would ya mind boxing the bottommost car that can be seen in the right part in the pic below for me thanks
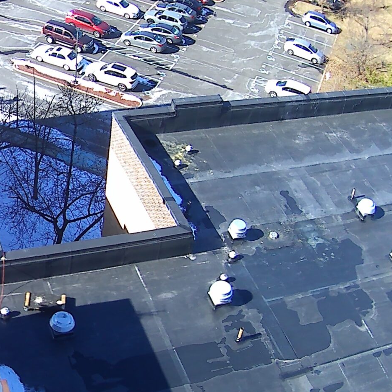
[265,79,313,96]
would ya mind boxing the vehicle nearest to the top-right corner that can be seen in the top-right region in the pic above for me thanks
[301,8,337,34]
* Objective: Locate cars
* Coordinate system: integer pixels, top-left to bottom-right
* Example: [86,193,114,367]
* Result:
[301,8,337,34]
[30,44,86,71]
[84,60,140,90]
[143,5,191,29]
[283,36,325,64]
[133,21,182,44]
[117,28,169,53]
[64,7,113,38]
[265,79,313,96]
[96,0,139,19]
[153,0,199,19]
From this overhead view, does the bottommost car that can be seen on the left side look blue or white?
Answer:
white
